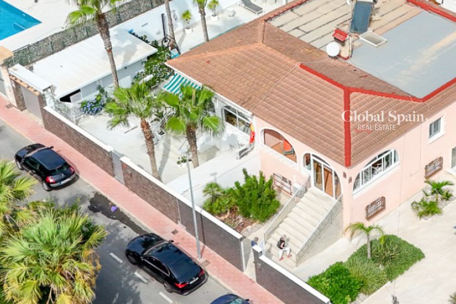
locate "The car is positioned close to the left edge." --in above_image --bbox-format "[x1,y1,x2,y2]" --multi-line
[13,144,77,190]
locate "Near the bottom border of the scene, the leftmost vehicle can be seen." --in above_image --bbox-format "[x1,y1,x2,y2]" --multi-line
[123,232,206,293]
